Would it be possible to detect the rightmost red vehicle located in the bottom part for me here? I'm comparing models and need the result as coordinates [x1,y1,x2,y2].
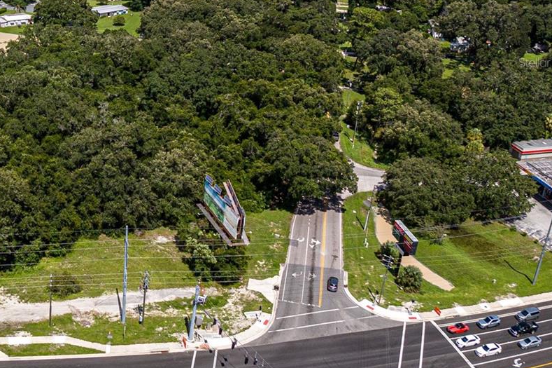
[446,323,471,336]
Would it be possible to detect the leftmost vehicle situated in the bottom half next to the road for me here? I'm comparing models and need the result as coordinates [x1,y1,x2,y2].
[327,278,339,294]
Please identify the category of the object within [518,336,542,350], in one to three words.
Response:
car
